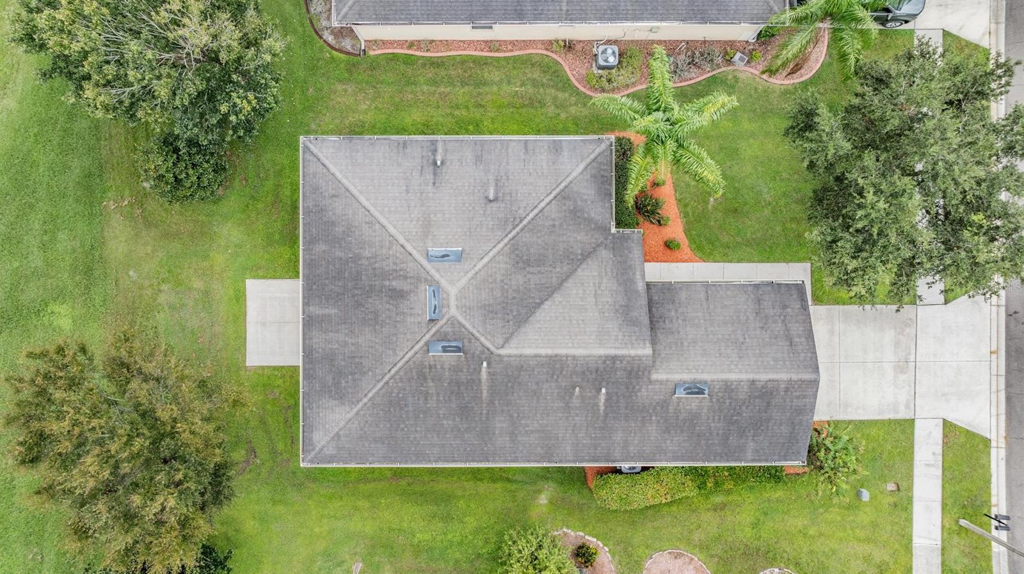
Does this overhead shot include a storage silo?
No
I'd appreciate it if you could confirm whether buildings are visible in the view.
Yes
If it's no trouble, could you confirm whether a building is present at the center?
Yes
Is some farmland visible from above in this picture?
No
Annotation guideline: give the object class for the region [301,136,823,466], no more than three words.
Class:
house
